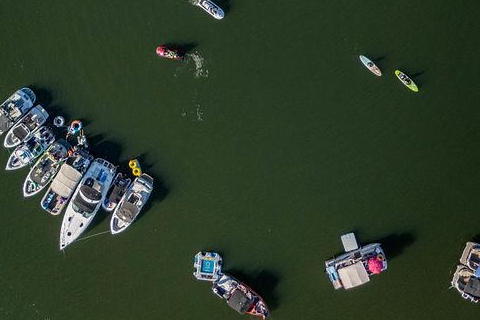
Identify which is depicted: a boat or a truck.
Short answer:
boat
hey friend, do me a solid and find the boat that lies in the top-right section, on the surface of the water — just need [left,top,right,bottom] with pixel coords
[395,70,418,92]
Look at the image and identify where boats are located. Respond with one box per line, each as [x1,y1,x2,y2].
[444,263,480,308]
[156,47,187,60]
[197,0,225,18]
[4,101,52,147]
[395,70,418,92]
[39,146,95,217]
[210,266,268,320]
[6,124,61,172]
[23,138,76,198]
[323,242,391,295]
[108,172,159,237]
[0,85,39,134]
[105,169,135,208]
[59,155,120,254]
